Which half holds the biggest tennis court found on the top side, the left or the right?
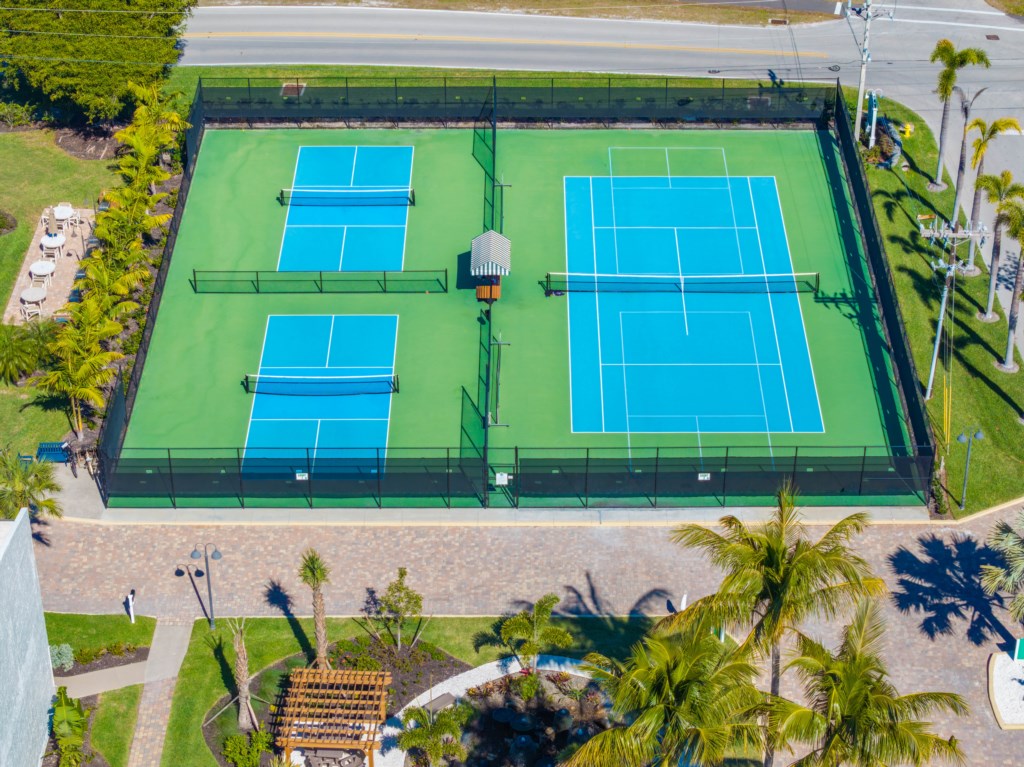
right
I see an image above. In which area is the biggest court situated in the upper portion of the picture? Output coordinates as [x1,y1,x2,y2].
[564,147,825,457]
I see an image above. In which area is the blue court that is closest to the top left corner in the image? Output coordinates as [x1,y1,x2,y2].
[277,145,414,272]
